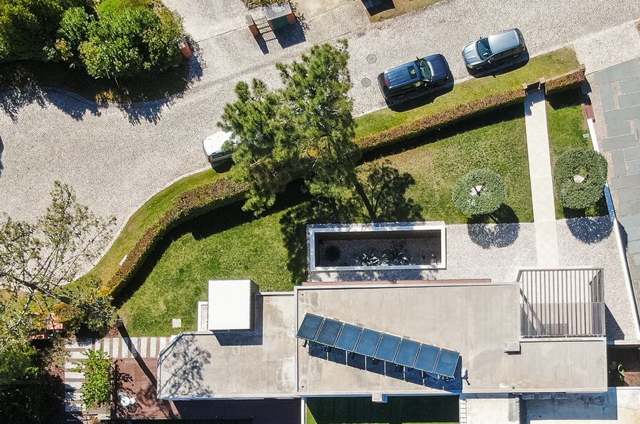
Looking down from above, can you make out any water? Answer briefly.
No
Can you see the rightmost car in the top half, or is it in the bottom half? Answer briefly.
top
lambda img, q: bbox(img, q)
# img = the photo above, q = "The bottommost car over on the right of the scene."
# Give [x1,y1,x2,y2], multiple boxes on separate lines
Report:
[377,53,454,102]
